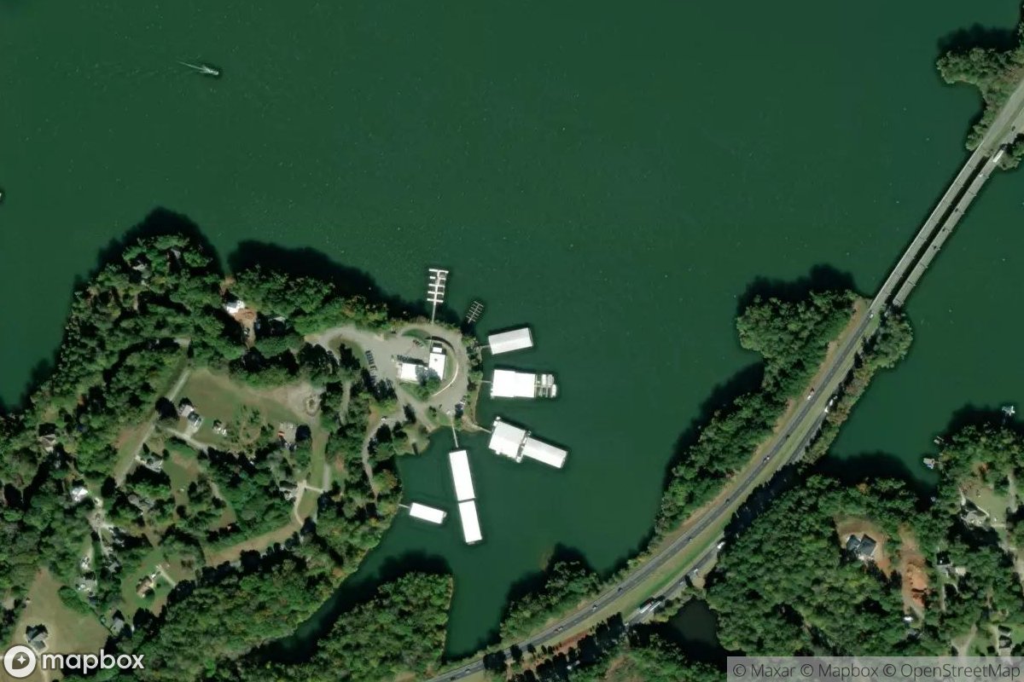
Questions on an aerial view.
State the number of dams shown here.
zero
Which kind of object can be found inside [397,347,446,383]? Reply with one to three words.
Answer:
building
